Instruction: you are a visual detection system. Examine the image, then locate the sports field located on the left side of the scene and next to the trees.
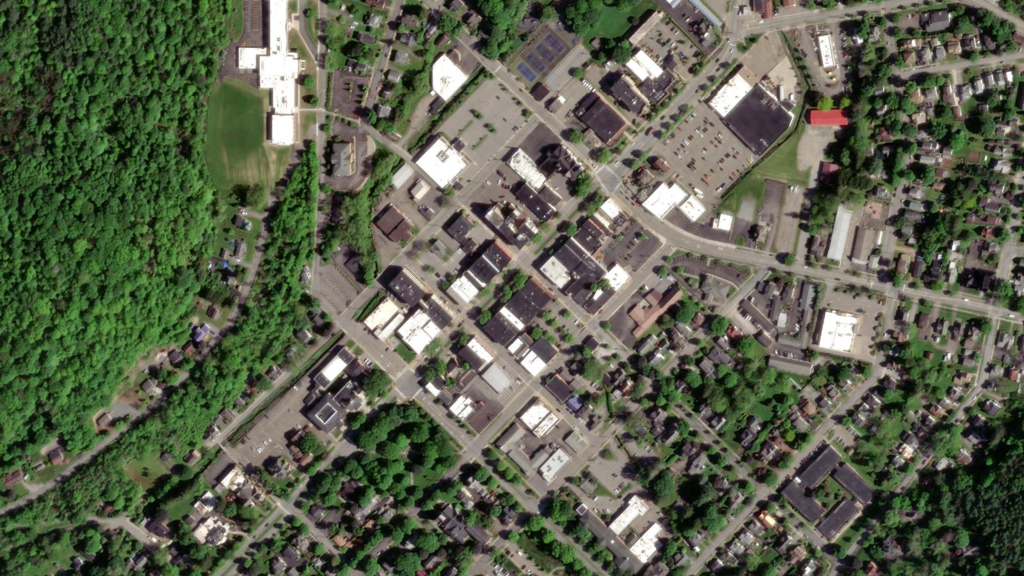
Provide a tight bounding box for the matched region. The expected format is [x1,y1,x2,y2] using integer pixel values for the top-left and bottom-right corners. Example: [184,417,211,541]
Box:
[219,81,268,192]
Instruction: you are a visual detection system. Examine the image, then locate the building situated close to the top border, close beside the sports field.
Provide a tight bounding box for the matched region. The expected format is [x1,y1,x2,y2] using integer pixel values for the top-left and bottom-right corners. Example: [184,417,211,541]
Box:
[238,0,301,145]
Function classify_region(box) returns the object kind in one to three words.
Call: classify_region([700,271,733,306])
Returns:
house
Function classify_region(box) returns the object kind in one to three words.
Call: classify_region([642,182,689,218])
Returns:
building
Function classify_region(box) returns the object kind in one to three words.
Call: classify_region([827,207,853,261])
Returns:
shed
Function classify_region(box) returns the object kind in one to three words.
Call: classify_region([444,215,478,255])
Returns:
building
